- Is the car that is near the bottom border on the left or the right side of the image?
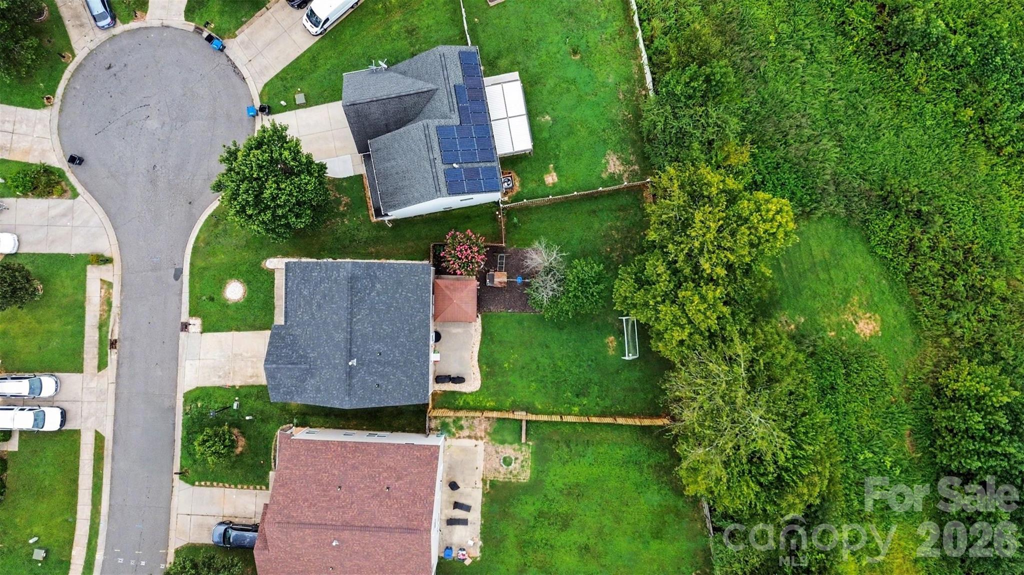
left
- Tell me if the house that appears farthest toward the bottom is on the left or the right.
left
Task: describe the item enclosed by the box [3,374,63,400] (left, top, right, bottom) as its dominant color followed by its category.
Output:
white car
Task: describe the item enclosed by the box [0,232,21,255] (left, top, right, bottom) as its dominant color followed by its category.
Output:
white car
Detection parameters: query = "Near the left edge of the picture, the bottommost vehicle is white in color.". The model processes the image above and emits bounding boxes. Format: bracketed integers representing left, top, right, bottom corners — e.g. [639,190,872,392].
[0,406,68,432]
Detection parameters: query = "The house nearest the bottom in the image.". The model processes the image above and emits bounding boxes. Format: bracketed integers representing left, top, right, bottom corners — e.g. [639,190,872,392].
[254,423,443,575]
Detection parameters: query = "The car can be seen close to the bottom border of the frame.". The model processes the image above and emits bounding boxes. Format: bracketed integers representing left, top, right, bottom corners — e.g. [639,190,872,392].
[211,523,259,551]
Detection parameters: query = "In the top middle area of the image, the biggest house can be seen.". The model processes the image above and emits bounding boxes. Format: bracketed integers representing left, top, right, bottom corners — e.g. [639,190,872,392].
[342,46,506,222]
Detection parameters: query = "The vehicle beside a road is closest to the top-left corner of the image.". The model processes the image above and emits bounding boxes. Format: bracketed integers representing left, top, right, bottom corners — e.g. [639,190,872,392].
[88,0,119,30]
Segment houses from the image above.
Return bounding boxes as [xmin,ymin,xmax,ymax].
[264,261,433,409]
[342,46,506,222]
[254,423,443,575]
